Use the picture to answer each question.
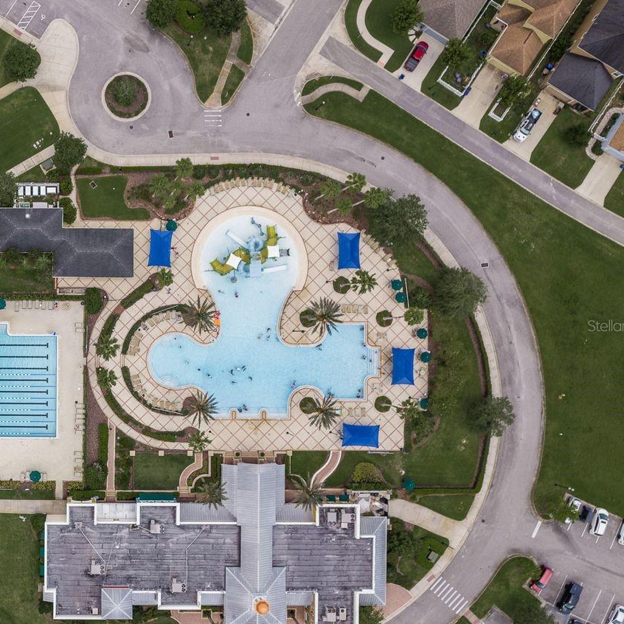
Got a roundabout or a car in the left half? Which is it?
roundabout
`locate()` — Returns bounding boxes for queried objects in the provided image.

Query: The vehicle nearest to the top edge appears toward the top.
[403,42,428,73]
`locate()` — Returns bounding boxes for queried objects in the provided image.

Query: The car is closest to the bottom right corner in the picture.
[604,603,624,624]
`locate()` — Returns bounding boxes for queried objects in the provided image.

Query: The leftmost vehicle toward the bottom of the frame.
[531,565,551,592]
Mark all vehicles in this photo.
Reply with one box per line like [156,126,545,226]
[557,580,581,614]
[569,490,585,518]
[616,520,624,543]
[513,110,541,142]
[576,501,595,527]
[403,42,428,73]
[531,565,551,592]
[587,509,609,536]
[604,603,624,624]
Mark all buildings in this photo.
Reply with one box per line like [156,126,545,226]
[0,208,136,277]
[600,114,624,161]
[413,0,487,45]
[540,0,624,113]
[483,0,579,76]
[40,461,386,624]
